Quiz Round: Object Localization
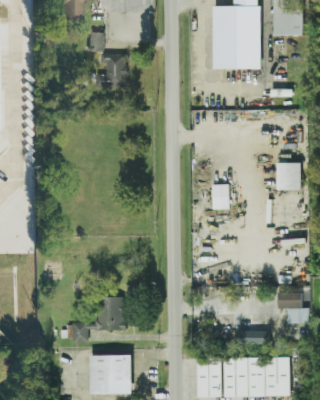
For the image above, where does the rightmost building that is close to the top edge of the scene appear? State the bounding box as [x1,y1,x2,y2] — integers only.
[274,0,304,37]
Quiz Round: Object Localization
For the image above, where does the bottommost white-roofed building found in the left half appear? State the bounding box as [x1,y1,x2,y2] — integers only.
[90,356,133,395]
